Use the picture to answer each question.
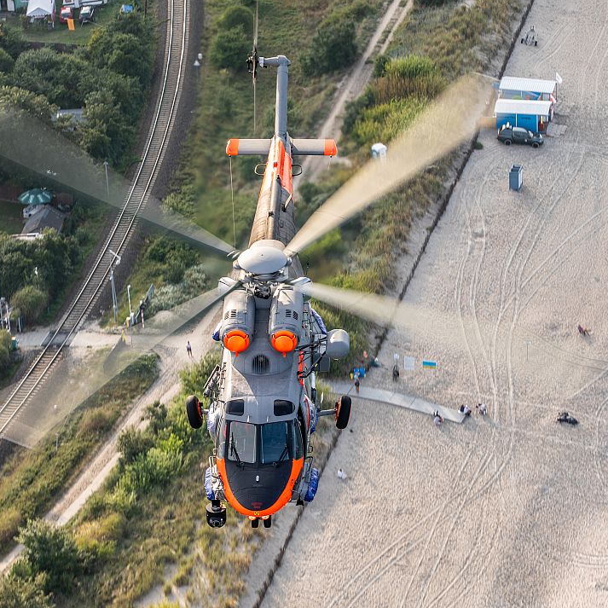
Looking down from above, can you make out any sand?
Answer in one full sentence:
Yes, there's sand in this view.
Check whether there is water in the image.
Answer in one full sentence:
No, the scene doesn't show any water.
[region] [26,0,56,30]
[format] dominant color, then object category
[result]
white tent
